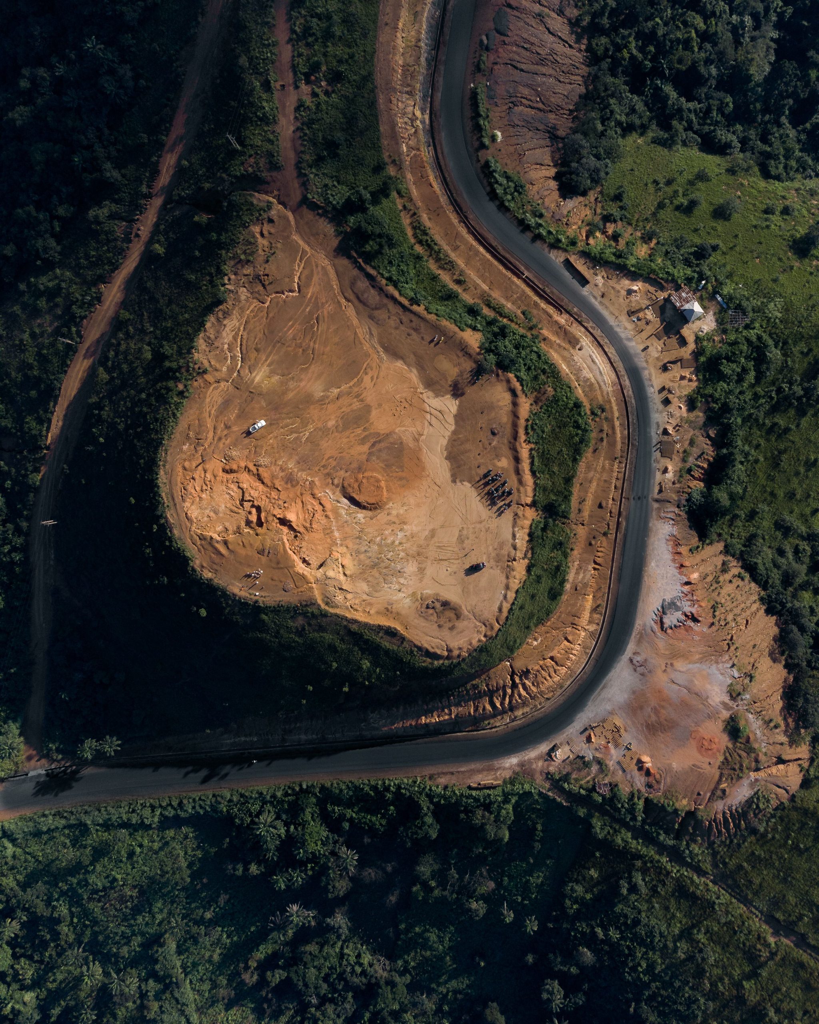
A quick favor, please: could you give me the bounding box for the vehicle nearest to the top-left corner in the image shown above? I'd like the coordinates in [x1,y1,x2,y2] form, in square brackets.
[247,419,267,435]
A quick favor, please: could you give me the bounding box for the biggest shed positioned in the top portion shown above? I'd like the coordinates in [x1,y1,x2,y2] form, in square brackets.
[668,286,707,322]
